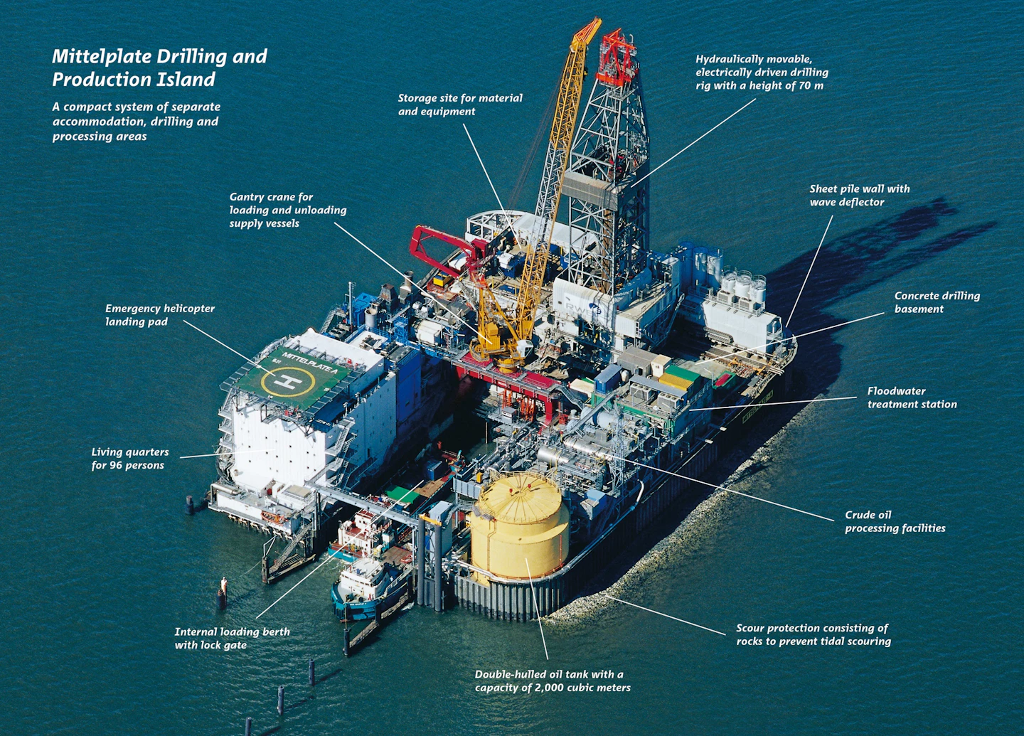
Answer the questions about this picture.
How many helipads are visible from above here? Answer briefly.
1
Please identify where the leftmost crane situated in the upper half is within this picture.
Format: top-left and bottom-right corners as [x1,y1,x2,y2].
[407,222,506,293]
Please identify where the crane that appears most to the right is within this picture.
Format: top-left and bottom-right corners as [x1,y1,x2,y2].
[466,16,601,374]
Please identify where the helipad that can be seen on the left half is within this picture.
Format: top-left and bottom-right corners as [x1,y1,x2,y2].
[223,343,363,440]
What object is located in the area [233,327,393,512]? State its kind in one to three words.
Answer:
building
